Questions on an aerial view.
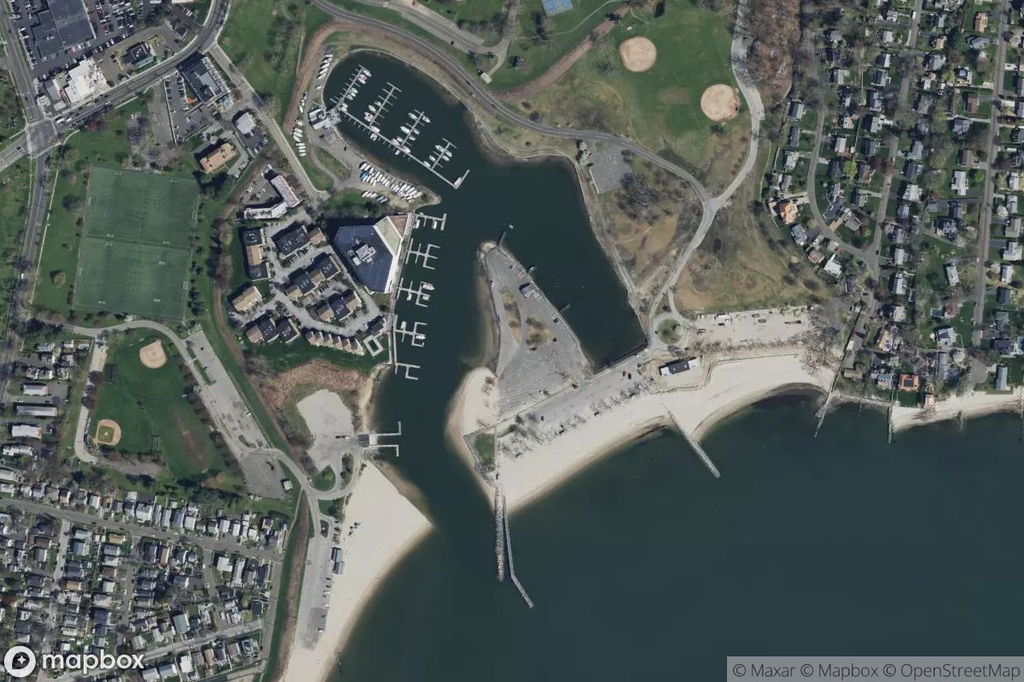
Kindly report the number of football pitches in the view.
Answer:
2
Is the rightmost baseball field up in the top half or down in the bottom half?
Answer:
top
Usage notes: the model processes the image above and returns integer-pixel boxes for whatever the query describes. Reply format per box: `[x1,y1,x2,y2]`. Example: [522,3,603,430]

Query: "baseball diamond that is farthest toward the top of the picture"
[619,36,656,72]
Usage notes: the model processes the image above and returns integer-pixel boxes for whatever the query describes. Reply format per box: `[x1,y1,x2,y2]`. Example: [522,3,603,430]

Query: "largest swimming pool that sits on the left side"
[363,335,384,356]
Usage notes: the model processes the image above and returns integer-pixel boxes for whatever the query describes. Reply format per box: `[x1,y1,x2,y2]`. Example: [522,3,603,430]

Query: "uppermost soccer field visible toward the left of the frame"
[85,167,199,248]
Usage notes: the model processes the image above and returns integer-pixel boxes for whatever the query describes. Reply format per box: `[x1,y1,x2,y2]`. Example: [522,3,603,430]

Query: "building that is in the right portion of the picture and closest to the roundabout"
[660,358,701,375]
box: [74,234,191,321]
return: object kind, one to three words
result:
soccer field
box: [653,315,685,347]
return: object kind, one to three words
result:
roundabout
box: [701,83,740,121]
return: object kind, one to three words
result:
baseball field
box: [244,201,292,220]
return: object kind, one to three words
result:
building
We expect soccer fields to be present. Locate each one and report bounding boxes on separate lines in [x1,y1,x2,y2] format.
[85,167,199,248]
[74,234,191,321]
